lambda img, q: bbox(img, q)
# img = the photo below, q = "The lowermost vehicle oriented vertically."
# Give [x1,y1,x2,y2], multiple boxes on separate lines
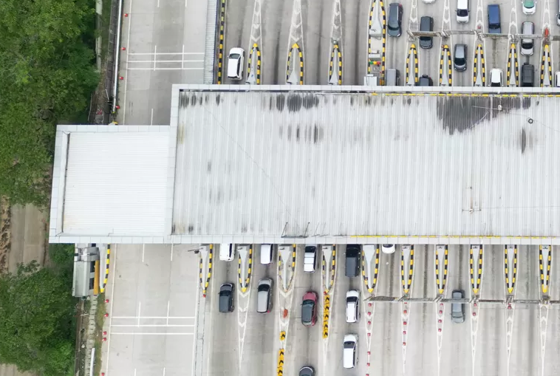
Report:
[342,334,359,368]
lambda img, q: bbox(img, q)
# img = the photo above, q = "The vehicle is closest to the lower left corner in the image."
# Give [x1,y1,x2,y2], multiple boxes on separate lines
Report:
[218,284,236,312]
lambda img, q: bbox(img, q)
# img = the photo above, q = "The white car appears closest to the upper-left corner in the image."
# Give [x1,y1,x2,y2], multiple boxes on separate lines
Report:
[227,49,245,80]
